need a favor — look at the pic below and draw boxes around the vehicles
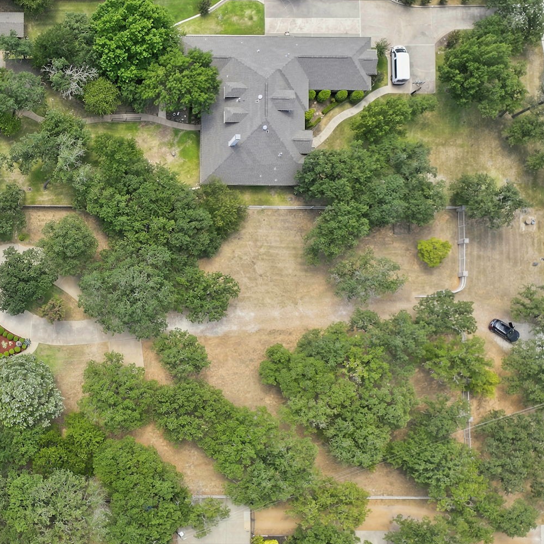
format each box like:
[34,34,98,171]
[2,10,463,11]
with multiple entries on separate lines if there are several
[390,44,412,87]
[485,318,522,341]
